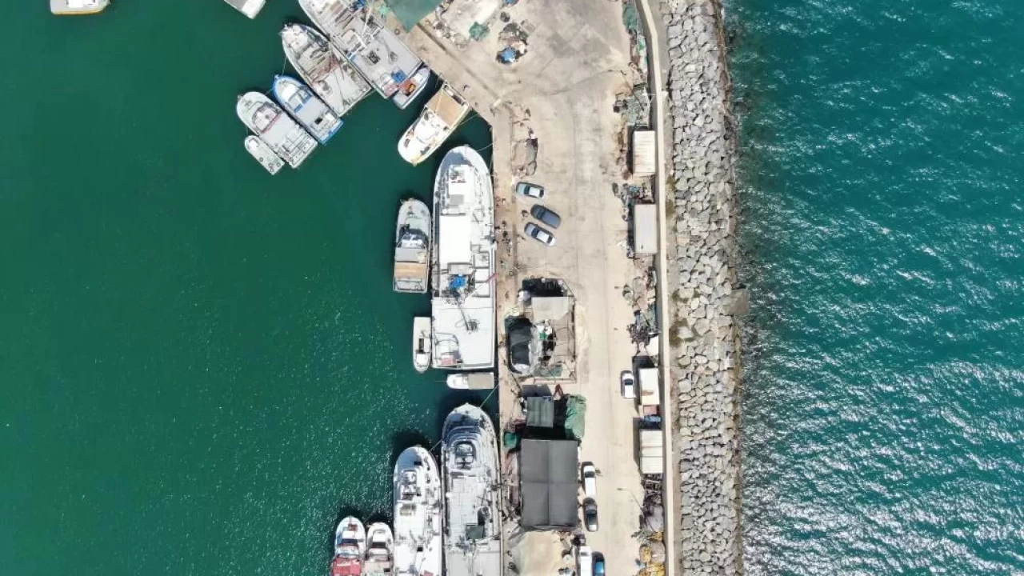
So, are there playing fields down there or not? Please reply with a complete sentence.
No, I find no playing field anywhere in the image.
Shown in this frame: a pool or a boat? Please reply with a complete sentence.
I can see a boat in this picture.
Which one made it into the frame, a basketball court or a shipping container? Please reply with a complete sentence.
I can see a shipping container in this picture.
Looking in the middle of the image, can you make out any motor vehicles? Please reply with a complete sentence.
Yes, I can see a motor vehicle in the middle of the image.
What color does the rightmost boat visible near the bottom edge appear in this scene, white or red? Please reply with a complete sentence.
In this view, the rightmost boat visible near the bottom edge is white.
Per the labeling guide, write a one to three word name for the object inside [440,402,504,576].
boat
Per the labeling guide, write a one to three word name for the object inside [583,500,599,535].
car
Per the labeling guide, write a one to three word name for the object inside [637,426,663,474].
shipping container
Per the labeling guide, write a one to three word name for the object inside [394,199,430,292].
boat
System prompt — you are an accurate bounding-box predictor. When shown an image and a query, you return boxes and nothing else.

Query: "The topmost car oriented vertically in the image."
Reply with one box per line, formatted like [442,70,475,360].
[622,371,636,401]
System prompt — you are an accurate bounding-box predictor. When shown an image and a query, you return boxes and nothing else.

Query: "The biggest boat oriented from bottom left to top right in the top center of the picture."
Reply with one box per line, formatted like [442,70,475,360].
[404,79,470,166]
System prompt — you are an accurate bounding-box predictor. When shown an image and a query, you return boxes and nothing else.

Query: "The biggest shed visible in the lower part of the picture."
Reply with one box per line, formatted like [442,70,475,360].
[519,433,578,530]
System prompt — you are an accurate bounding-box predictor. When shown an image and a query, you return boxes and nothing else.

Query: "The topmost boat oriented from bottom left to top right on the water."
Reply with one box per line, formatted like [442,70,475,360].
[396,66,431,109]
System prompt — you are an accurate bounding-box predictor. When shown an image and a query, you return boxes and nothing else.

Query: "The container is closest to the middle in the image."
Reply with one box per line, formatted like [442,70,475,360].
[631,204,657,255]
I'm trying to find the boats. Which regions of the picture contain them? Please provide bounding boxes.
[394,199,430,292]
[447,372,494,389]
[333,514,365,576]
[238,92,318,168]
[281,20,373,118]
[396,66,431,109]
[273,74,346,146]
[227,0,265,21]
[364,522,393,576]
[413,314,430,373]
[440,402,504,576]
[385,445,441,576]
[303,0,422,97]
[404,79,470,166]
[433,144,498,370]
[50,0,114,17]
[245,136,285,176]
